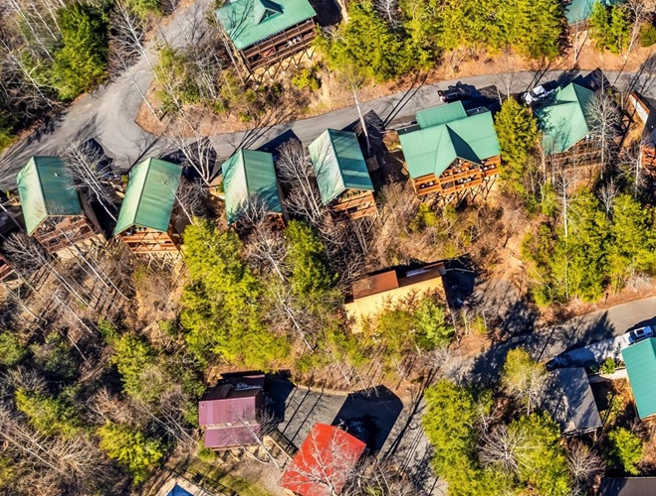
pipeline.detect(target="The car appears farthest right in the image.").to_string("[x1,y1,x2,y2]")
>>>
[621,318,656,343]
